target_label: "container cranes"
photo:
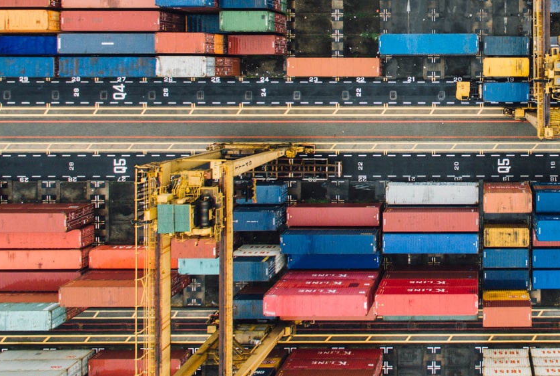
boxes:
[501,0,560,140]
[128,142,312,376]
